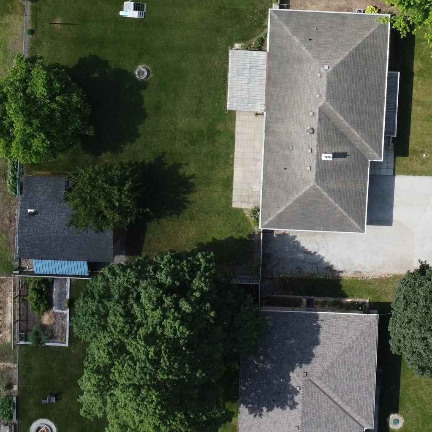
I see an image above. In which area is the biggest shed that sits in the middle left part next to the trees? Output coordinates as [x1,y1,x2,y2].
[22,174,119,262]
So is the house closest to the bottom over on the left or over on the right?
right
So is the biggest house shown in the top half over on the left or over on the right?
right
